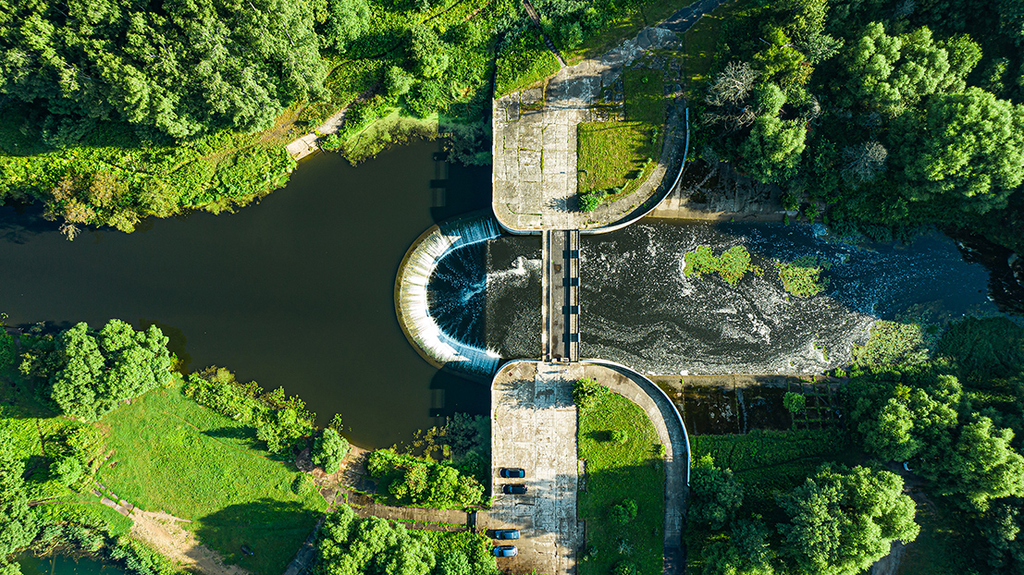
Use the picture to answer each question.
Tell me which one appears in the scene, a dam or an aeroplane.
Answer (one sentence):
The image shows a dam.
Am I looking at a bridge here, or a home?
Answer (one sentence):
The one in the frame is a bridge.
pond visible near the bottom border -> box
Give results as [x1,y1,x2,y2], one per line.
[14,548,130,575]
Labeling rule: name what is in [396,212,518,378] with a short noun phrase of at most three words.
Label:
dam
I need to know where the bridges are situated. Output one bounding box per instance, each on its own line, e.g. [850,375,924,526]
[542,230,580,362]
